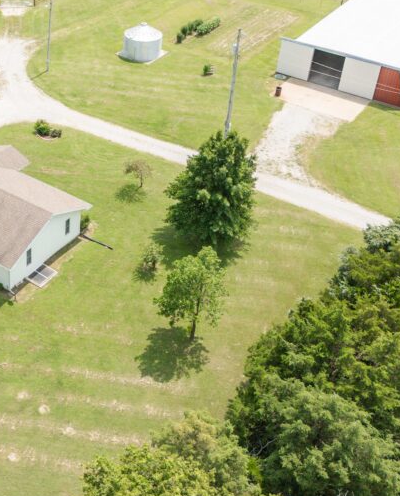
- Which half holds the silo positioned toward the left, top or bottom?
top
